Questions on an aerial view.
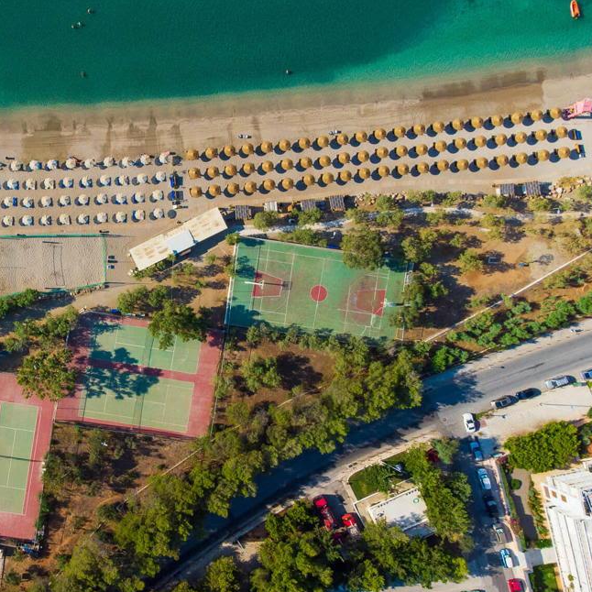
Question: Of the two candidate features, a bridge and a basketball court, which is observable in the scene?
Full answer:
The image shows a basketball court.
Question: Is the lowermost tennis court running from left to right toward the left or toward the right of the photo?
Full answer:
The lowermost tennis court running from left to right is on the left side of the image.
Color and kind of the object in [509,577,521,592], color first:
red vehicle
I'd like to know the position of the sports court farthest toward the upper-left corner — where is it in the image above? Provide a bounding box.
[0,236,106,299]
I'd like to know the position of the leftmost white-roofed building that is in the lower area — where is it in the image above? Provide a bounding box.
[364,486,433,537]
